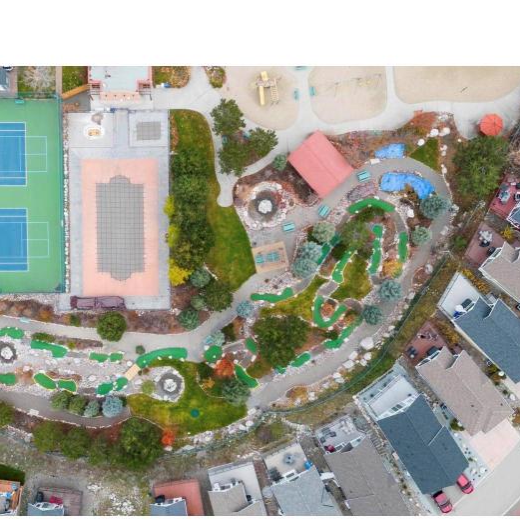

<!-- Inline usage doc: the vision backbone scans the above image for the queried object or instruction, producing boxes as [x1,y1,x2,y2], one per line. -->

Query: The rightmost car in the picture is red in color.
[454,471,475,496]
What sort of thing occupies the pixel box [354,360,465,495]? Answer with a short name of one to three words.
house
